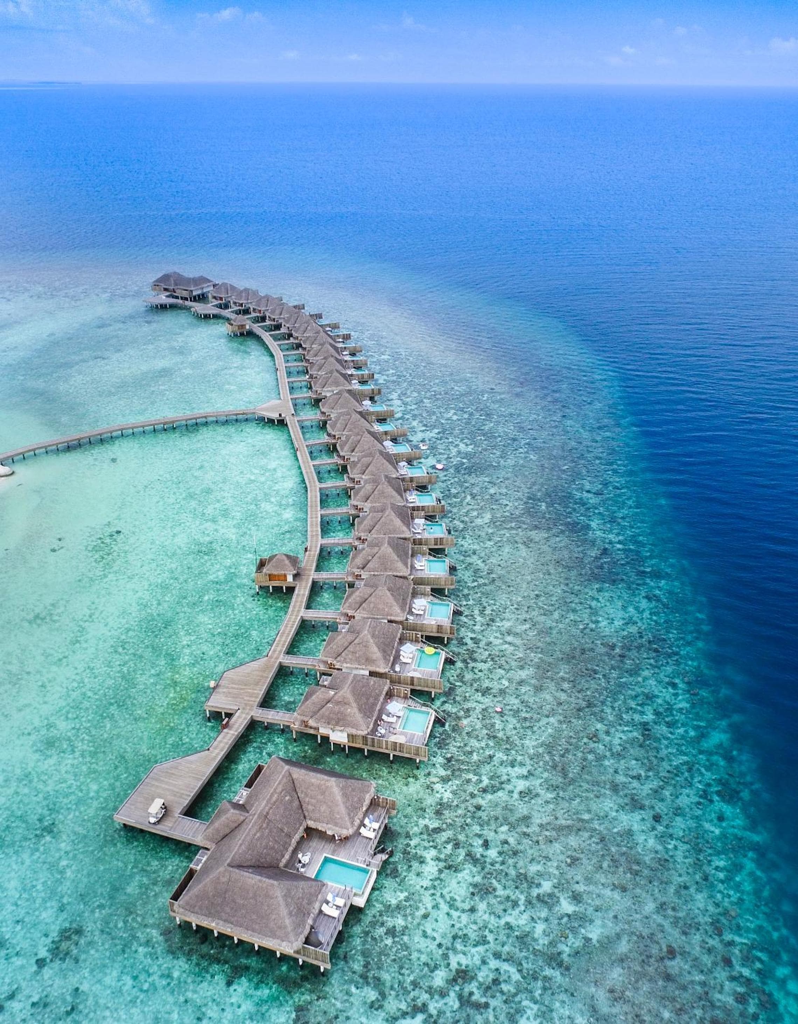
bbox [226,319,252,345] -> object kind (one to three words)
shed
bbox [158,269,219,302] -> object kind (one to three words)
house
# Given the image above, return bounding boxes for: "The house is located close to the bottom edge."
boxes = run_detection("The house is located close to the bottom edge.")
[167,756,396,979]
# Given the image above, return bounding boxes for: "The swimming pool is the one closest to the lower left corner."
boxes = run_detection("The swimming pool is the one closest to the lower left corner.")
[315,854,370,896]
